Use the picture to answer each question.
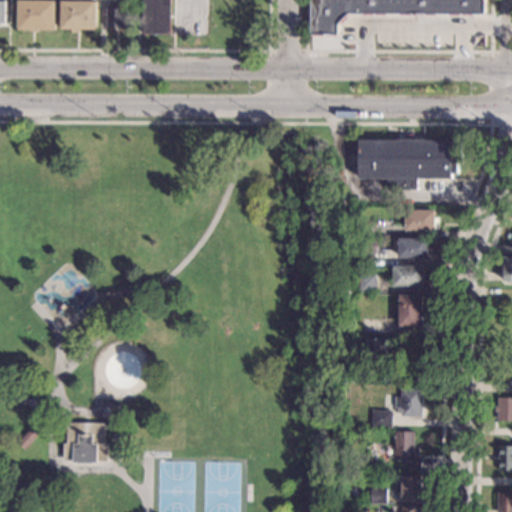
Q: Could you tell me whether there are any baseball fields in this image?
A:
No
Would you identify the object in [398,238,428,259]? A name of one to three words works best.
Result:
house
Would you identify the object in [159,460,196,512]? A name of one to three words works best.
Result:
basketball court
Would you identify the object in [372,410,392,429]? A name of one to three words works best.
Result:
building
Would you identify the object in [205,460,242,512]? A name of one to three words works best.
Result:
basketball court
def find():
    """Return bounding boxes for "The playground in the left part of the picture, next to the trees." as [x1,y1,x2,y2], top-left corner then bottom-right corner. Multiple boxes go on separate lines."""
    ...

[32,263,92,327]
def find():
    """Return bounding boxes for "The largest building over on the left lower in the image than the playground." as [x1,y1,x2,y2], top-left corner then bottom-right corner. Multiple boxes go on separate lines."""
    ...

[62,423,107,463]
